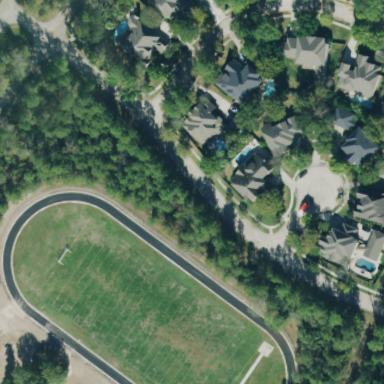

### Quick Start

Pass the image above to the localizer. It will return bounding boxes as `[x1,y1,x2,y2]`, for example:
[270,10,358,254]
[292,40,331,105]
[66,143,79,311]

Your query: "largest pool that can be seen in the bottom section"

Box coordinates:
[350,256,382,278]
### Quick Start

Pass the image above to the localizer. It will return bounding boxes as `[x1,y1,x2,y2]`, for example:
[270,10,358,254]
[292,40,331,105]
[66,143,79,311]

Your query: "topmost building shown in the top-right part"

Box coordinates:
[284,36,332,70]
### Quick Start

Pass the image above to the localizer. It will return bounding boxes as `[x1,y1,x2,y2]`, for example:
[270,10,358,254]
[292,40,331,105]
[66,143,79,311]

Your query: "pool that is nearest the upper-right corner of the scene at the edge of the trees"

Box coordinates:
[348,93,375,109]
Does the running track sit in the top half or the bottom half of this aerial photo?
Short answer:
bottom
